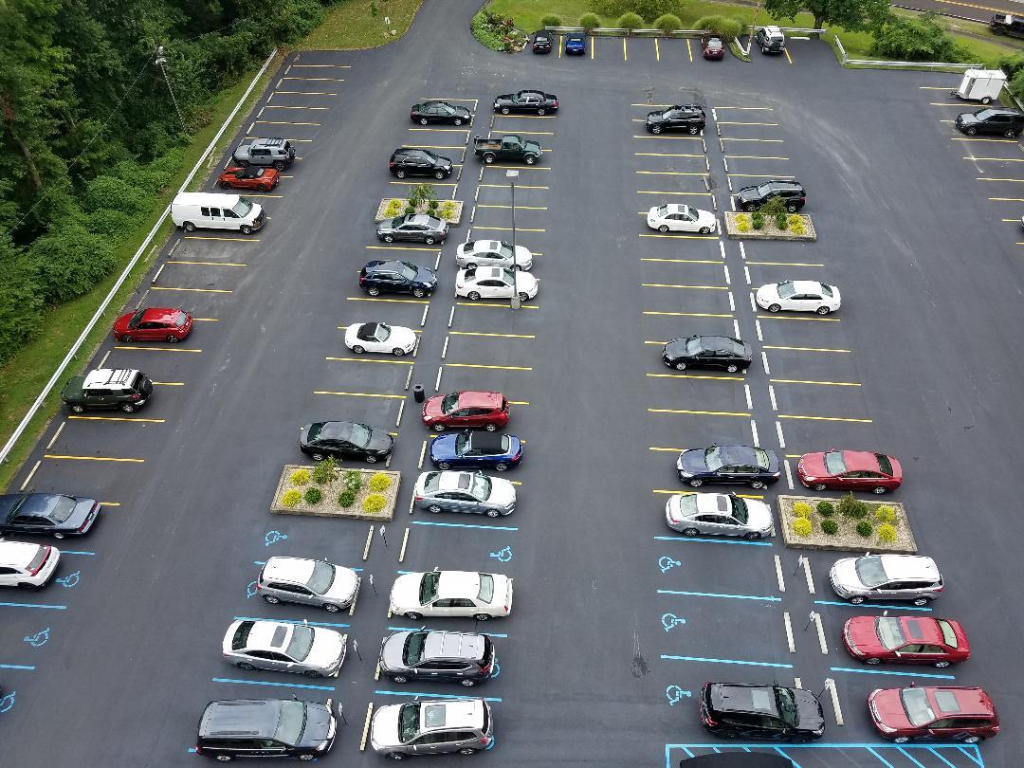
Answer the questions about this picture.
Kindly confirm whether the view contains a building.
No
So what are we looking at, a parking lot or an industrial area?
parking lot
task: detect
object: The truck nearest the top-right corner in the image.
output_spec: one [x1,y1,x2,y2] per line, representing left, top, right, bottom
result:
[989,3,1024,31]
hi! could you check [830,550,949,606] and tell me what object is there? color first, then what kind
white car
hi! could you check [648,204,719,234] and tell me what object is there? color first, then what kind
white car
